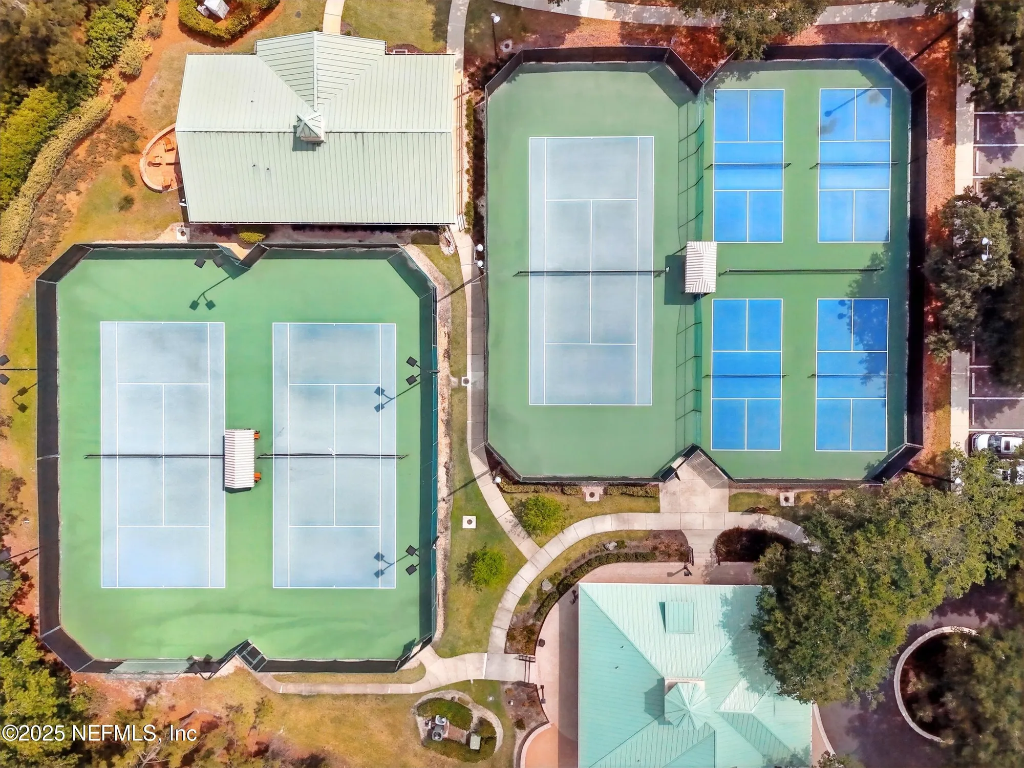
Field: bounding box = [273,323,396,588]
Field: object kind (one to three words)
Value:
tennis court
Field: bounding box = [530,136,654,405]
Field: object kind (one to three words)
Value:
tennis court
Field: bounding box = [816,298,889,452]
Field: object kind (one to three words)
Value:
sports court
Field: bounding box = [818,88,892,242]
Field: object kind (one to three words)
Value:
sports court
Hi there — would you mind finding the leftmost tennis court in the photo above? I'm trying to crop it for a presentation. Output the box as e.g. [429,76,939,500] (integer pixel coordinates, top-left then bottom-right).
[101,322,225,588]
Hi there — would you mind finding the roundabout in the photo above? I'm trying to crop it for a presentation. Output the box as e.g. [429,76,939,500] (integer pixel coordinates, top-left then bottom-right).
[893,625,1011,742]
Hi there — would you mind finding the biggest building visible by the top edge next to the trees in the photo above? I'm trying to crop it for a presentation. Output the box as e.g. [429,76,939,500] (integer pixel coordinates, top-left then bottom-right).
[175,31,456,227]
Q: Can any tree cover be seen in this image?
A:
Yes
